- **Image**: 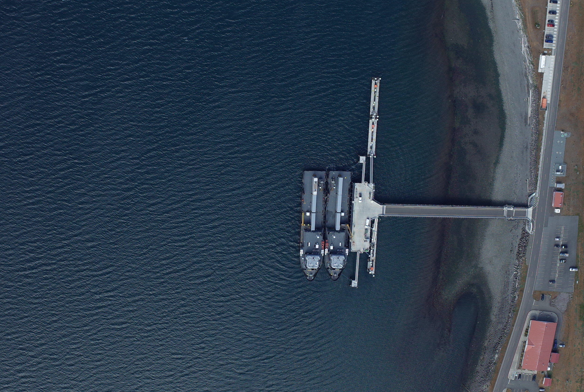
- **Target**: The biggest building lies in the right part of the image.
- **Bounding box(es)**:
[521,320,557,371]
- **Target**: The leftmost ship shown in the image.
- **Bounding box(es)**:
[300,171,326,280]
